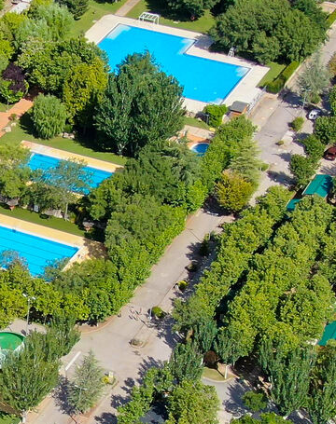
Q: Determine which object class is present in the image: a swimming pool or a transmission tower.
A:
swimming pool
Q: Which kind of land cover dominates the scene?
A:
trees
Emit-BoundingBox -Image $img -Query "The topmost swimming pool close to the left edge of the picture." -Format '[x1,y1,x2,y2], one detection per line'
[4,151,114,197]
